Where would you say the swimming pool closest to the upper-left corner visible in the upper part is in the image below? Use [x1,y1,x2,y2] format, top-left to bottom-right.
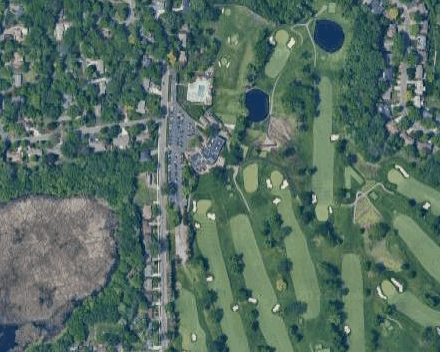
[187,77,211,105]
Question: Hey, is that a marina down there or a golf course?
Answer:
golf course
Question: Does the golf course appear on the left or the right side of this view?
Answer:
right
